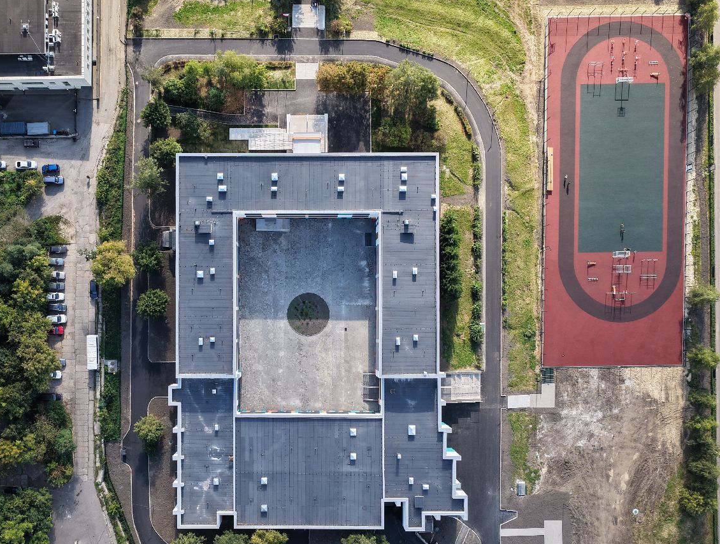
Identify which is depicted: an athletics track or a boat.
athletics track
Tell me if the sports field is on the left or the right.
right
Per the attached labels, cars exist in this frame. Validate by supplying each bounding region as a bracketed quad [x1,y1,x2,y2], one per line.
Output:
[54,358,68,366]
[47,292,68,301]
[46,281,67,291]
[43,176,65,185]
[0,160,7,169]
[47,314,68,324]
[15,159,37,170]
[48,256,67,266]
[49,270,68,280]
[89,281,99,299]
[43,370,63,378]
[47,304,69,312]
[48,244,70,254]
[46,327,67,335]
[41,162,61,173]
